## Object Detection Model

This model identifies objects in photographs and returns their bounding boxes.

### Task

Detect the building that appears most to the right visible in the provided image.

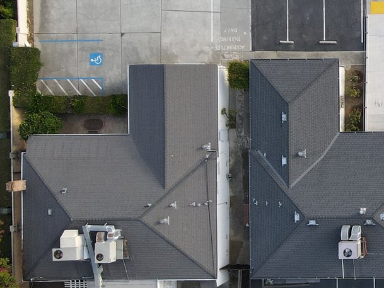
[248,58,384,288]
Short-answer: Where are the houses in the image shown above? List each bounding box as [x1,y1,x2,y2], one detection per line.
[248,58,384,288]
[6,64,228,281]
